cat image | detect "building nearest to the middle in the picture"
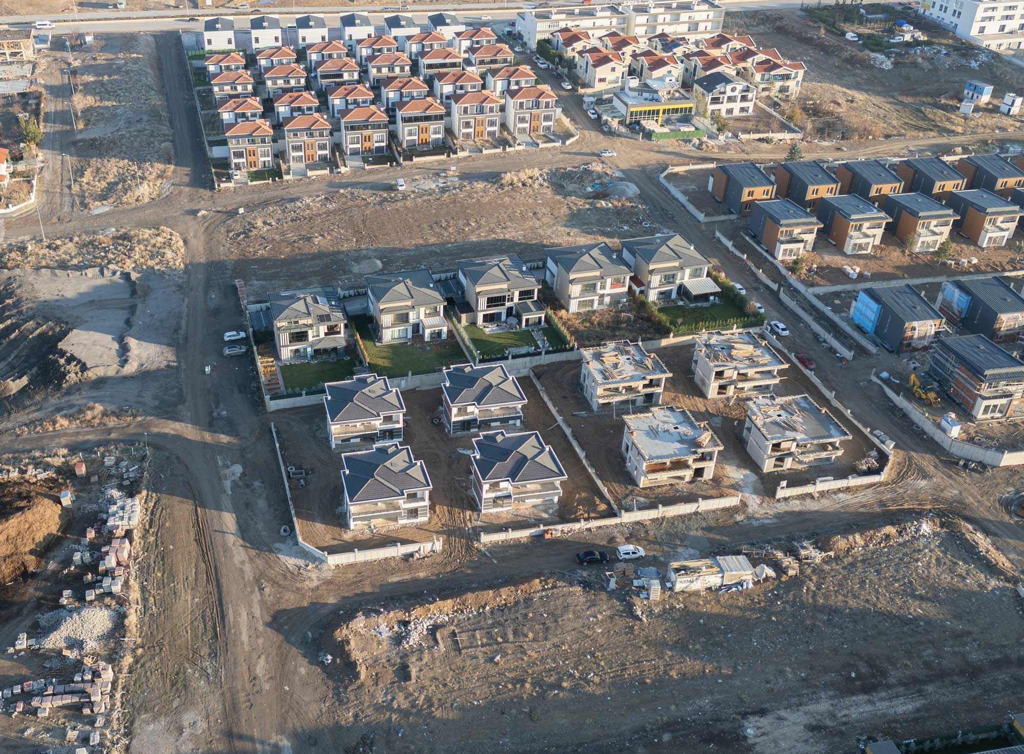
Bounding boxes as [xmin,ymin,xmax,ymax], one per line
[443,357,527,433]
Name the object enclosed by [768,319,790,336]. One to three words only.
car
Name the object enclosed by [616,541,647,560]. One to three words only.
vehicle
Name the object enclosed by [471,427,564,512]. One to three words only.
house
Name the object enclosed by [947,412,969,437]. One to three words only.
building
